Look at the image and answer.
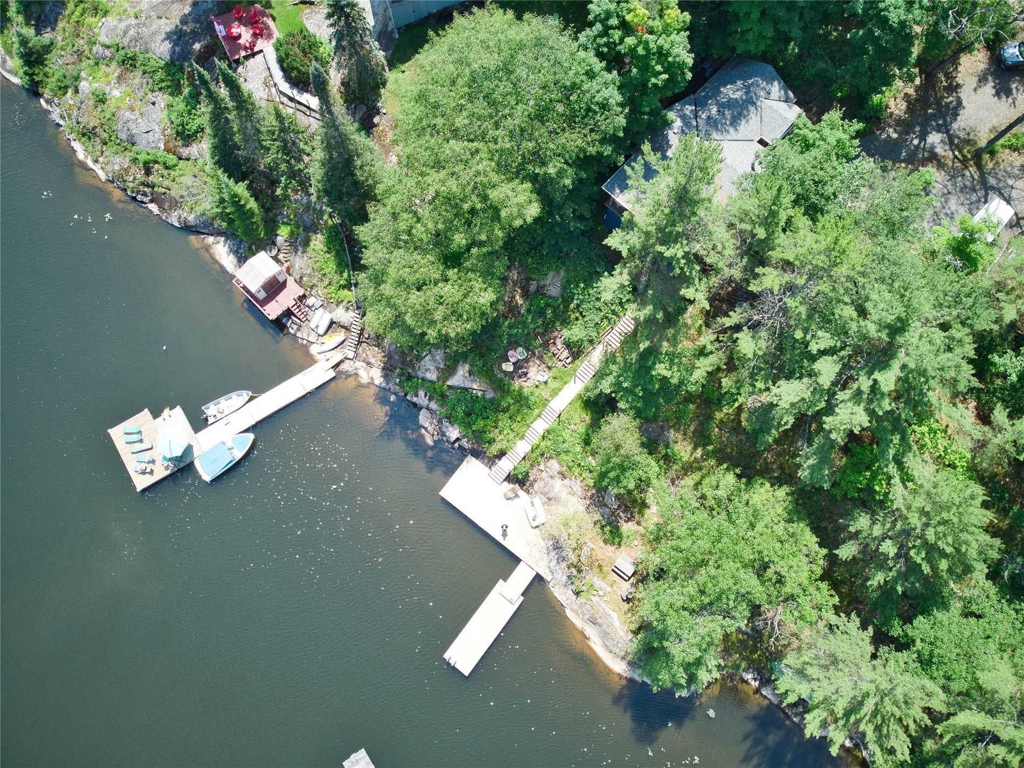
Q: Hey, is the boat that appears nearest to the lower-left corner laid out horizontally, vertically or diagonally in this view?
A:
diagonally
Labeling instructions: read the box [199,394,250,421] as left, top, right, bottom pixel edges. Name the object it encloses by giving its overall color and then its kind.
white boat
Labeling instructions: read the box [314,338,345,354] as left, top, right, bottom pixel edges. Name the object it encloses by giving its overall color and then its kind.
white boat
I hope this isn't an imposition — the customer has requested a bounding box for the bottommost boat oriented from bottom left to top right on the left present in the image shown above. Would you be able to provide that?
[197,437,253,481]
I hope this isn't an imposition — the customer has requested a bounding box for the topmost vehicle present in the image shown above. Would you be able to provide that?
[1003,40,1024,68]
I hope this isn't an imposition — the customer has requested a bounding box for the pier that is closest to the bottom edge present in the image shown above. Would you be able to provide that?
[343,748,375,768]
